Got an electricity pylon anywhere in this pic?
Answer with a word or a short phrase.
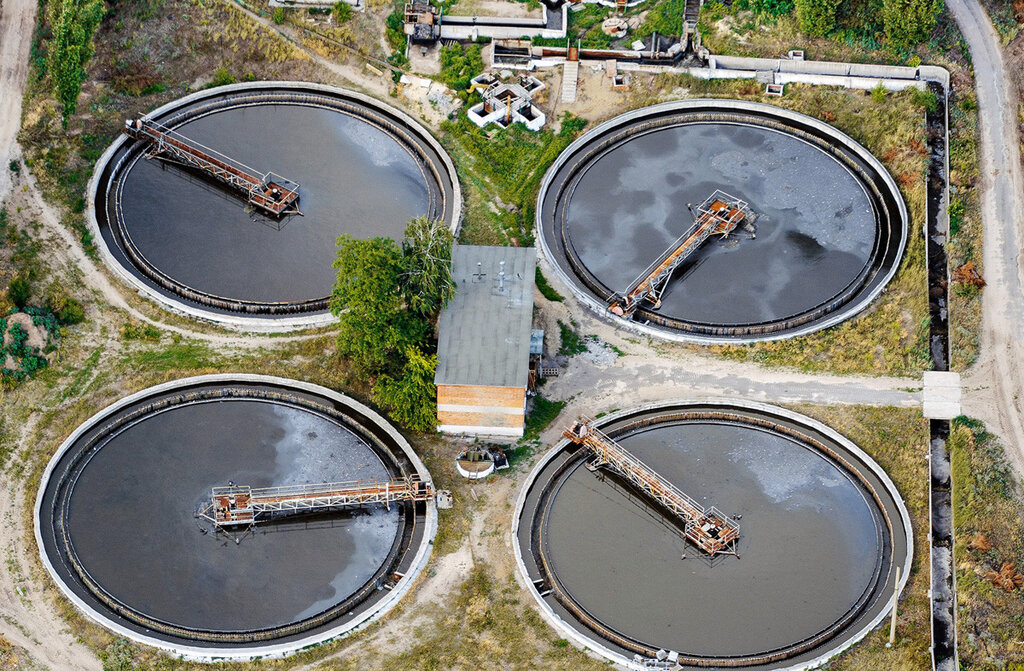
No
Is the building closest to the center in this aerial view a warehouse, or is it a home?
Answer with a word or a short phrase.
home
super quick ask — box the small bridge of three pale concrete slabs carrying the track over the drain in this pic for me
[922,373,961,420]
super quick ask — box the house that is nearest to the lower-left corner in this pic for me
[435,246,543,436]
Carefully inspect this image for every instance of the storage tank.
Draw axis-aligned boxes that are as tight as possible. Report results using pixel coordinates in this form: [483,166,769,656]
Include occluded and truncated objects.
[514,398,914,671]
[31,376,437,661]
[536,99,909,348]
[87,81,461,329]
